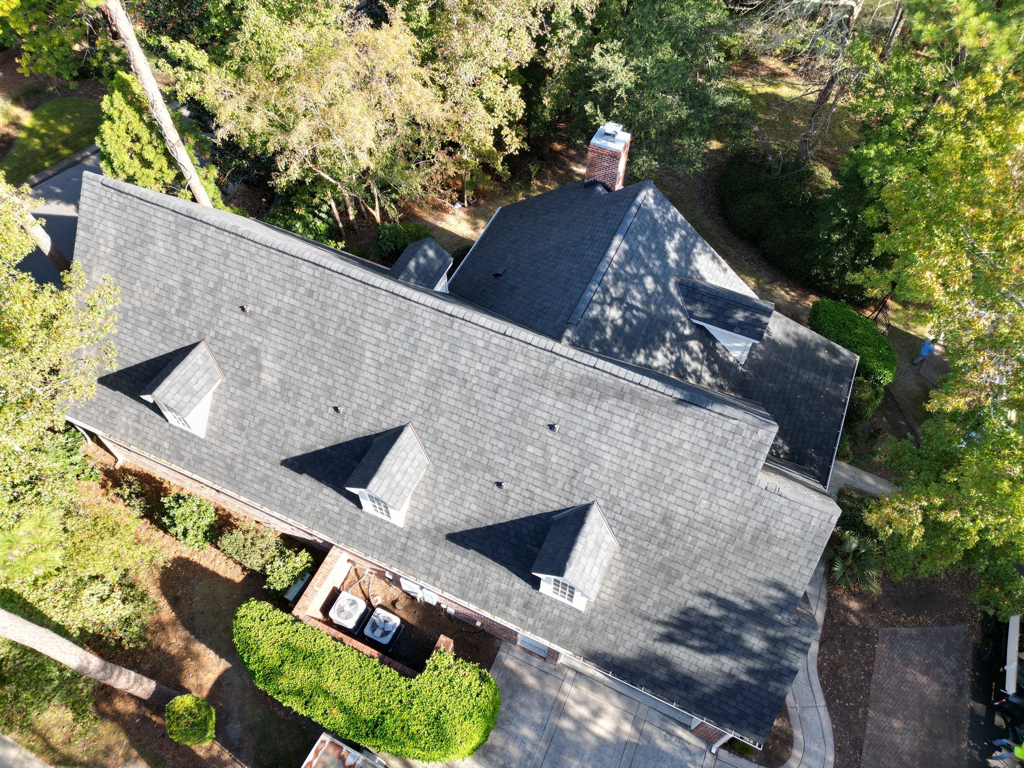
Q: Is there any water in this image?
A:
No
